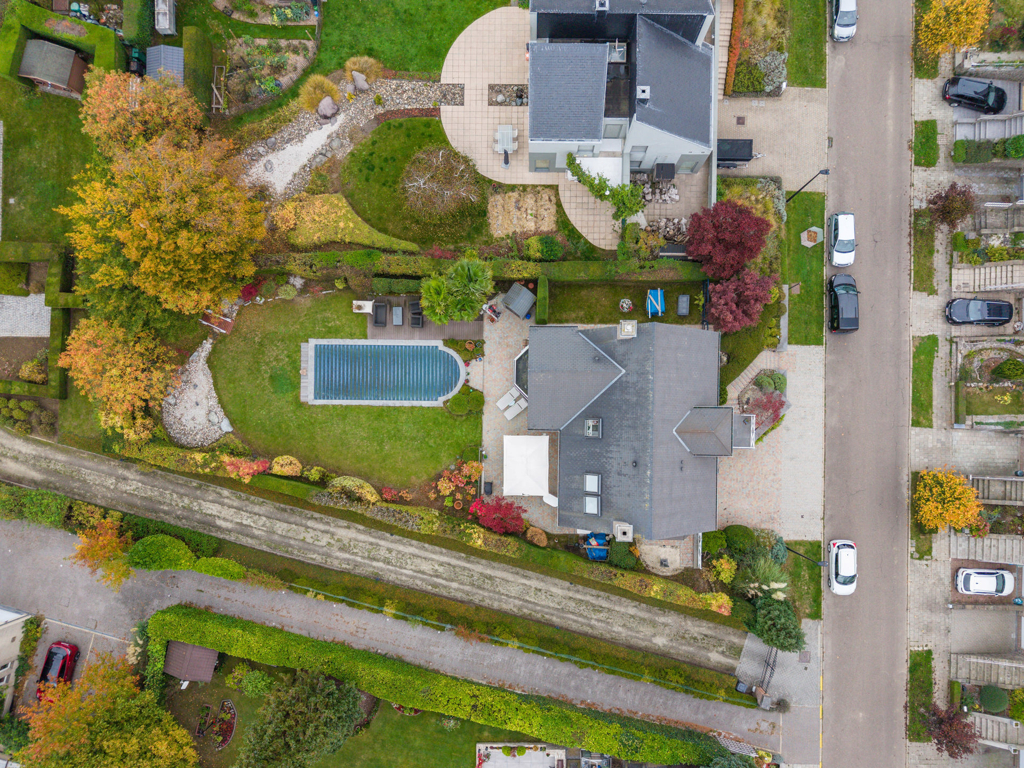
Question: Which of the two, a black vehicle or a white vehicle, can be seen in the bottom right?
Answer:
white vehicle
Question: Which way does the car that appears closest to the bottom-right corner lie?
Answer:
from side to side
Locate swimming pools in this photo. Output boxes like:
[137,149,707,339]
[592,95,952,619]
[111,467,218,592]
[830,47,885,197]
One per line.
[308,339,466,405]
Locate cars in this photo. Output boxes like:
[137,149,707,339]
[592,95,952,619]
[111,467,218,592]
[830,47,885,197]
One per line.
[825,538,858,594]
[826,212,858,267]
[37,637,82,699]
[827,0,859,44]
[825,274,860,334]
[941,296,1014,327]
[949,566,1014,598]
[938,79,1004,117]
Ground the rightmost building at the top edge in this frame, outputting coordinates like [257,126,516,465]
[529,0,714,196]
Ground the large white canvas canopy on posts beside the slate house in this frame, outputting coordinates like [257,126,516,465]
[503,436,549,496]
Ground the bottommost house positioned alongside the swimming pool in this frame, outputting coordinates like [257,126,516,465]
[513,320,758,542]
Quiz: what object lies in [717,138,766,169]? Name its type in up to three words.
trailer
